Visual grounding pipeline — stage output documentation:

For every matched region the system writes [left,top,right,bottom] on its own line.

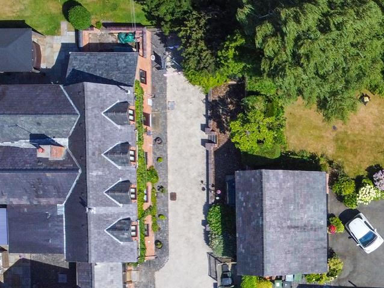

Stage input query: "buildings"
[0,28,44,77]
[235,169,331,277]
[0,52,160,288]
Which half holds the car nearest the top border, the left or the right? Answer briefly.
right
